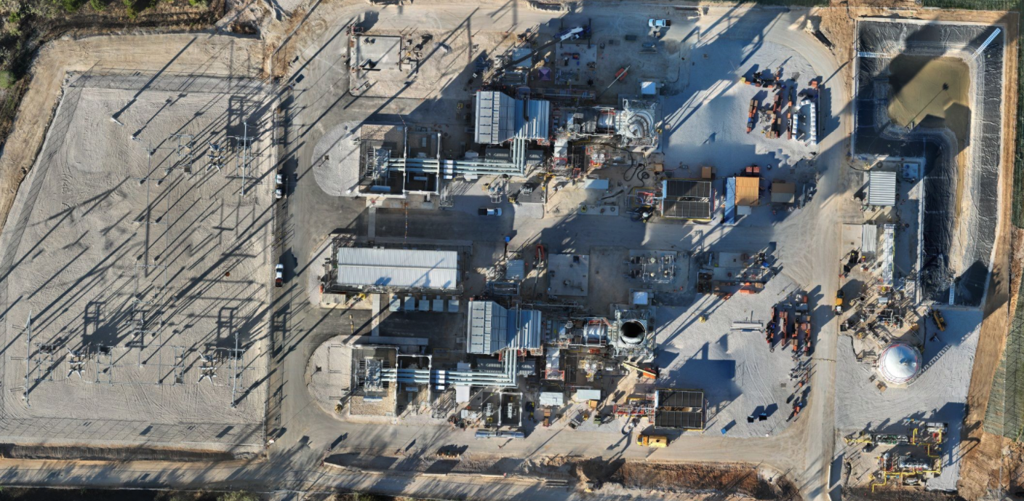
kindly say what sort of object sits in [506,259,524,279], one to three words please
building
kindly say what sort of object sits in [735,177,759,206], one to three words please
building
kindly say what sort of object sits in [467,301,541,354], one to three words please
house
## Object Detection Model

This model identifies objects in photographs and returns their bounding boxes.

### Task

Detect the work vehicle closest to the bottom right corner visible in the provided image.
[928,303,946,331]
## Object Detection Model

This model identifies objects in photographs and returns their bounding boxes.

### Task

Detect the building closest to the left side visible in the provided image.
[337,245,459,290]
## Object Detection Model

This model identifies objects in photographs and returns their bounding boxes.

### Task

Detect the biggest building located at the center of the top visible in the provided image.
[475,91,549,146]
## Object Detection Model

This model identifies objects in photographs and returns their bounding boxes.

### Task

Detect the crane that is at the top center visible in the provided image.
[488,15,592,83]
